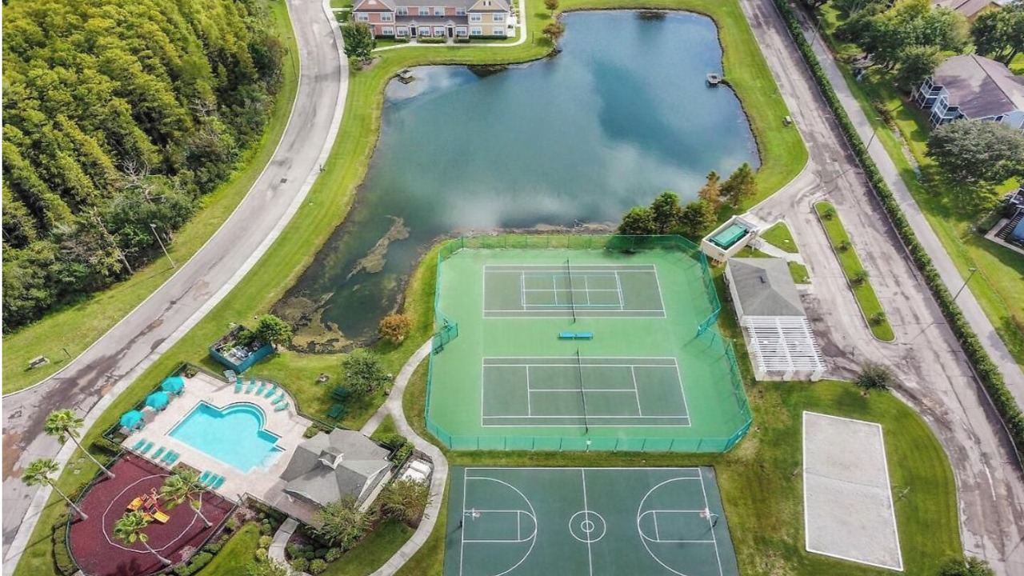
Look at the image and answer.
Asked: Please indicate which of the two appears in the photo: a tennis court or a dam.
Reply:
tennis court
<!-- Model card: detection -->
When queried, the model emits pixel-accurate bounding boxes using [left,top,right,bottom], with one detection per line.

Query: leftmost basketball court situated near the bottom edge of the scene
[443,467,738,576]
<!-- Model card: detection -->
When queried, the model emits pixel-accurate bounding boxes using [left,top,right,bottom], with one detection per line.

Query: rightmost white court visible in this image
[786,410,911,571]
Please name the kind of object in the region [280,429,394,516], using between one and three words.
building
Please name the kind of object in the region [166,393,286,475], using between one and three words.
swimming pool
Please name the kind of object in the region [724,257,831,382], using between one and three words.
building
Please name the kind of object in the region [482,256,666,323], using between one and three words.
tennis court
